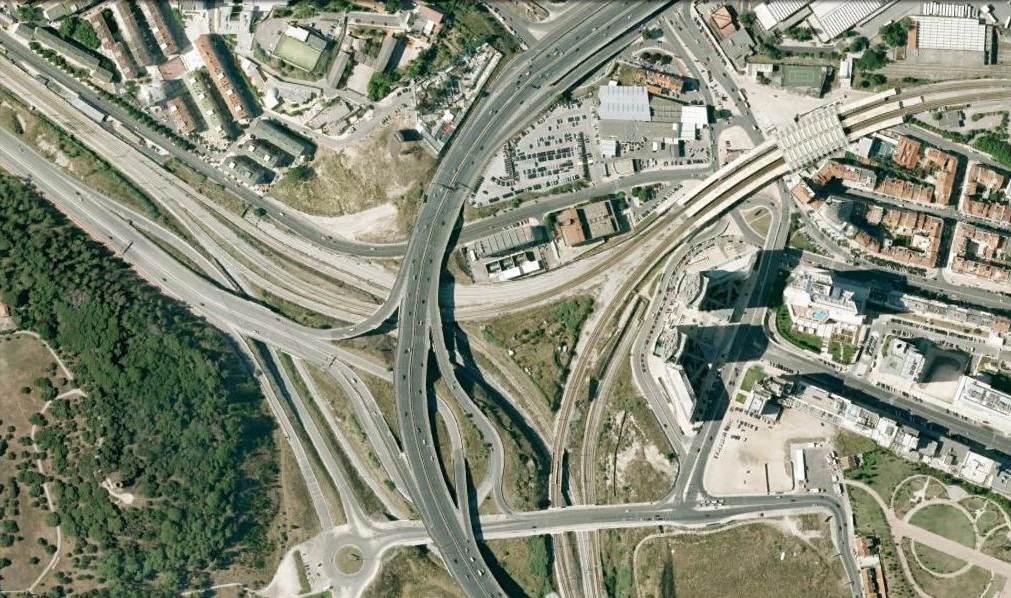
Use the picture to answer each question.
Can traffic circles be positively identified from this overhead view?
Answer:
Yes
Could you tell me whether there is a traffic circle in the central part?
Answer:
No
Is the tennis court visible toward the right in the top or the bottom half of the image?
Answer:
top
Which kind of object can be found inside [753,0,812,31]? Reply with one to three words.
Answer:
building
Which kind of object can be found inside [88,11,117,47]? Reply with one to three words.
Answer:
building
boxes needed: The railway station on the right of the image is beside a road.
[633,75,1011,266]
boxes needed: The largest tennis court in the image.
[781,65,826,92]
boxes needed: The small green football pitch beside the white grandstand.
[272,35,323,75]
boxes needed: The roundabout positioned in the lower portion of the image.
[320,532,376,587]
